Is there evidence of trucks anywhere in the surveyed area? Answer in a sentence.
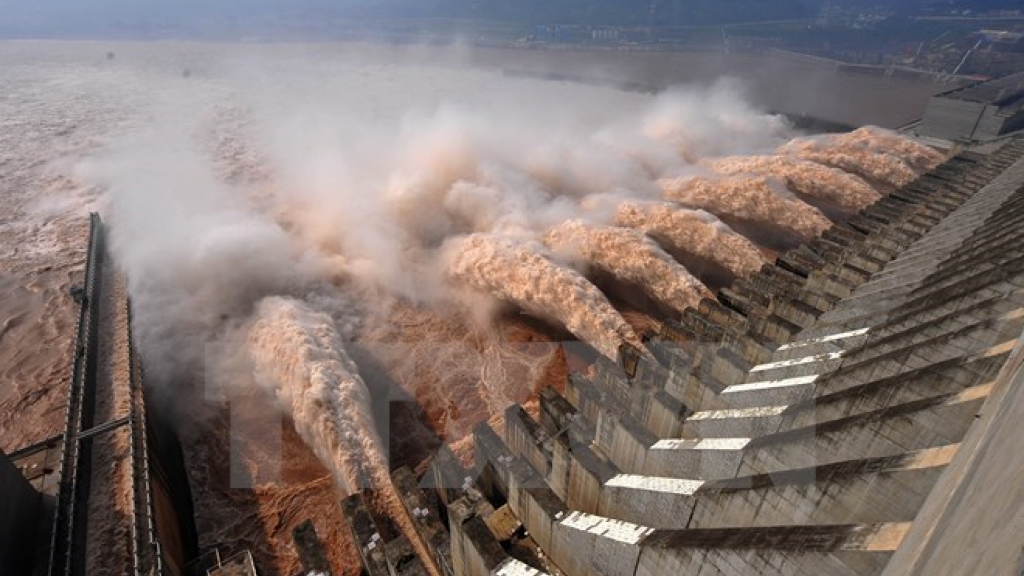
No, I can see no truck in this picture.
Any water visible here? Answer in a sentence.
Yes, water shows up in the scene.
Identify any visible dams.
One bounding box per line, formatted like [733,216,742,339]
[256,125,1024,576]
